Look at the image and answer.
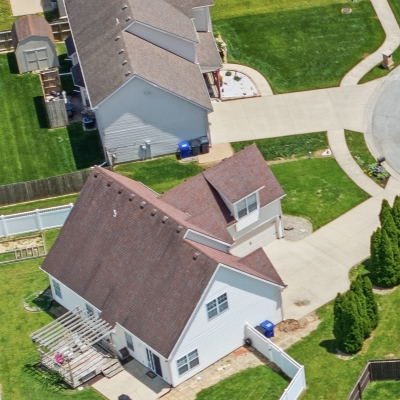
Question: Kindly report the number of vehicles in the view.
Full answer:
The photo contains no vehicles.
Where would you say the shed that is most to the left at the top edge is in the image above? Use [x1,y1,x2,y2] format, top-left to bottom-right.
[9,8,59,74]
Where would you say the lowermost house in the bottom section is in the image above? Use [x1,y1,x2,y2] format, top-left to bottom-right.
[41,141,287,387]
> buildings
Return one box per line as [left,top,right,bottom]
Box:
[41,141,287,387]
[9,8,59,74]
[62,0,226,165]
